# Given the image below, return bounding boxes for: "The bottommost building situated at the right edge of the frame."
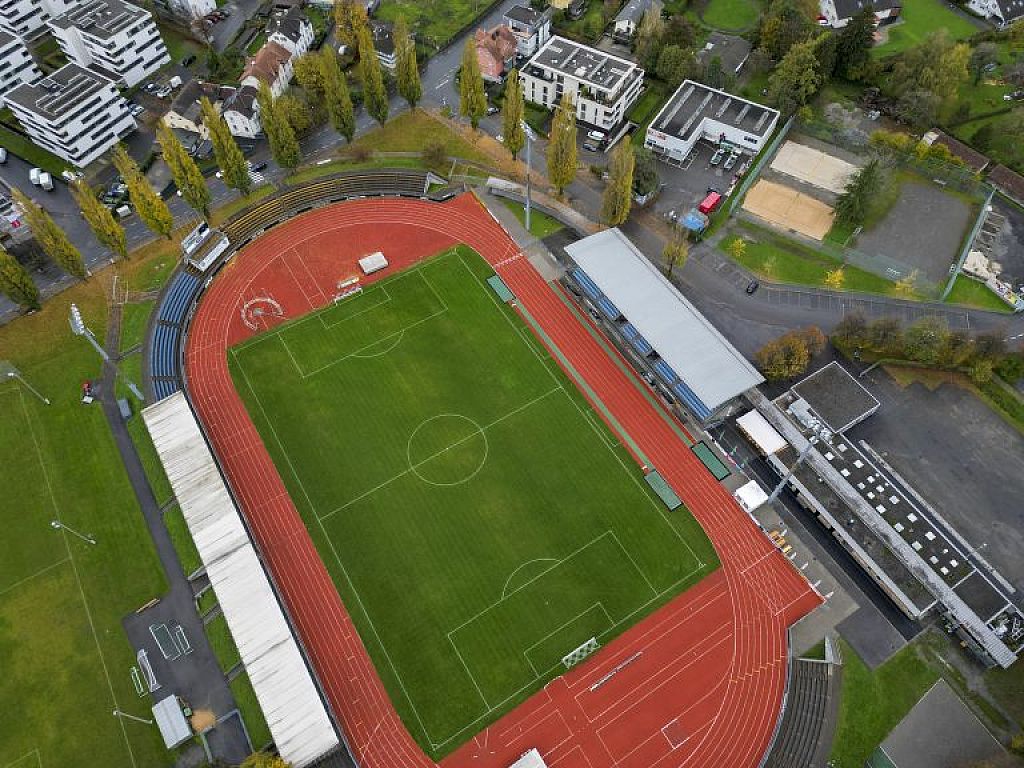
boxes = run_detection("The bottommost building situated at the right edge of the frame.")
[741,360,1024,669]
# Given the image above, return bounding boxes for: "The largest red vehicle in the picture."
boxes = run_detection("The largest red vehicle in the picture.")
[700,195,721,214]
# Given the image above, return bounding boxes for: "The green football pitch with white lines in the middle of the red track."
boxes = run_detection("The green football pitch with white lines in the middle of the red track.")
[228,243,722,766]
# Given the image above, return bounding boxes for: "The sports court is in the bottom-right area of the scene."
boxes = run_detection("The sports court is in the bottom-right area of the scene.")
[867,678,1021,768]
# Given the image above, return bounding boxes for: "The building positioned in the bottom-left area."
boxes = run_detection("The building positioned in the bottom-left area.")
[152,691,197,749]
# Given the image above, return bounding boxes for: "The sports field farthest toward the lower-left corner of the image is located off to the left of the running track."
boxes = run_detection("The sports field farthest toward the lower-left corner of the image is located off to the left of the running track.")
[0,350,180,768]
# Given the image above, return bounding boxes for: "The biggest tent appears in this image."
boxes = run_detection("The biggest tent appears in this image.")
[732,482,770,516]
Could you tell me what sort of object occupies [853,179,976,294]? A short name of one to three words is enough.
sports court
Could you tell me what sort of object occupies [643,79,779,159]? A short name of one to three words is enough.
building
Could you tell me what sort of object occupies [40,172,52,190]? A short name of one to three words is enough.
vehicle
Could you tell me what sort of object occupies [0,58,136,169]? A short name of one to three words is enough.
building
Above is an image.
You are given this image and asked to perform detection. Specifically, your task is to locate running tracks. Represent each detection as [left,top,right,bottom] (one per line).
[185,192,822,768]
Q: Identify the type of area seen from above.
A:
sports ground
